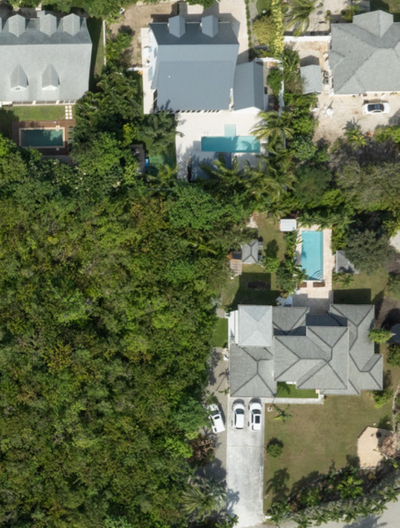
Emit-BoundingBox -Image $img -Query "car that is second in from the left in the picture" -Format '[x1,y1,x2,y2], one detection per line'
[230,402,246,428]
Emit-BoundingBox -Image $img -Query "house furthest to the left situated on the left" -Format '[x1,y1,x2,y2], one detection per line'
[0,11,93,111]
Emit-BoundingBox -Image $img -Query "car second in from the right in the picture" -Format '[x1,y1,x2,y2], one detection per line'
[247,402,263,429]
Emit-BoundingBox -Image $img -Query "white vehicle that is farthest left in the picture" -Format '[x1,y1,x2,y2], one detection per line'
[207,404,226,432]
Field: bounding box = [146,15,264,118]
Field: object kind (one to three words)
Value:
house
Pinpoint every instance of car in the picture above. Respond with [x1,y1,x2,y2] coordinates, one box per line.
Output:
[247,402,263,429]
[207,404,226,432]
[230,402,246,428]
[361,102,391,116]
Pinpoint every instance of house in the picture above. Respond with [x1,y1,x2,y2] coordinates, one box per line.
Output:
[0,11,93,111]
[146,15,264,118]
[222,305,384,397]
[321,9,400,99]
